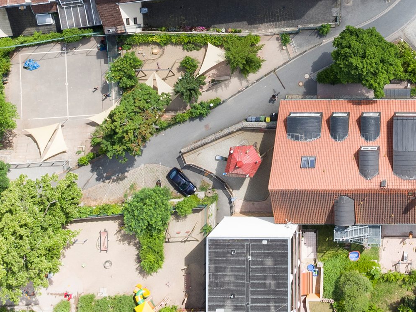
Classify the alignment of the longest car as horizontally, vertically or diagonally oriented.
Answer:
diagonally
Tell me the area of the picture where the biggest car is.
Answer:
center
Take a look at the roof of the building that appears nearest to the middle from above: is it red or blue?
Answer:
red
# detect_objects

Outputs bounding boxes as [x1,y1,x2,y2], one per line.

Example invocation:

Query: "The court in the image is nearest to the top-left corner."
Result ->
[11,34,110,123]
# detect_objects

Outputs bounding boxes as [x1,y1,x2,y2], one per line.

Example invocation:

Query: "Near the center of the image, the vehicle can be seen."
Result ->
[170,166,193,193]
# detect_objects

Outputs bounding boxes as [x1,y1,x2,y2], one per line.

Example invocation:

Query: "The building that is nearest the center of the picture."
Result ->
[215,144,262,178]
